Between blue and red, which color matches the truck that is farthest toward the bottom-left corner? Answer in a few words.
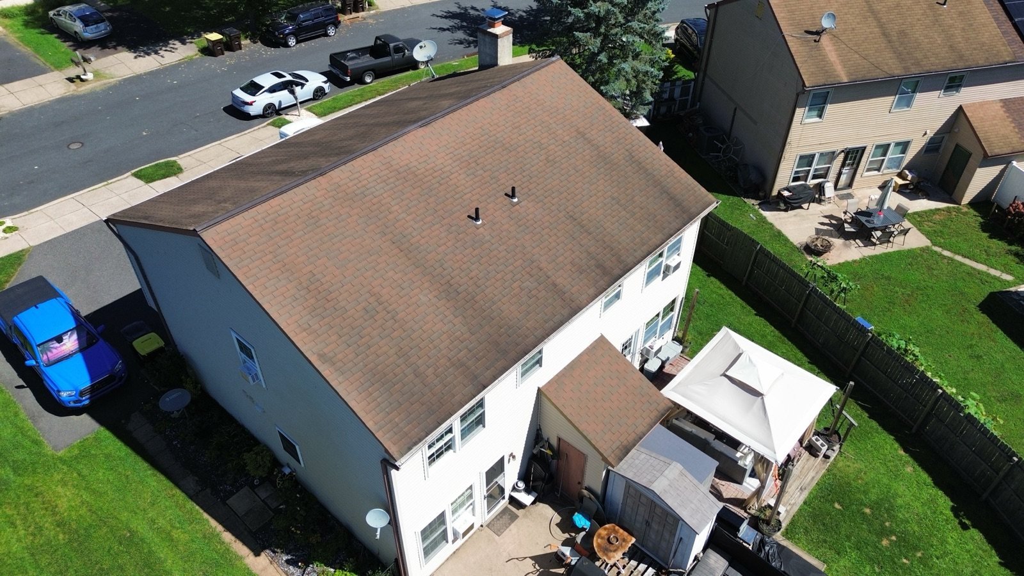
blue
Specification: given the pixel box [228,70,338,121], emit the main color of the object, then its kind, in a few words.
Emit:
white car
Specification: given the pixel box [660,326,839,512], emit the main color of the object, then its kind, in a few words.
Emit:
white gazebo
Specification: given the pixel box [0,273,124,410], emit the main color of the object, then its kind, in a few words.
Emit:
blue truck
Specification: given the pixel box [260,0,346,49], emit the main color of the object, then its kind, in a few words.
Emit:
black car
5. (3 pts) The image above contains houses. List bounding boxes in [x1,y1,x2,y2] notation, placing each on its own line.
[104,12,721,576]
[694,0,1024,203]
